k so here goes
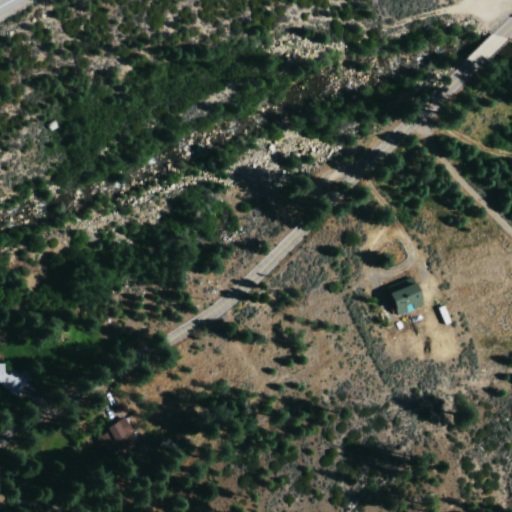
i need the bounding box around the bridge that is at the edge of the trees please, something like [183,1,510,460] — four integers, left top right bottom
[470,27,510,70]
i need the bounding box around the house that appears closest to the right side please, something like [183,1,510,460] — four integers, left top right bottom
[392,280,426,314]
